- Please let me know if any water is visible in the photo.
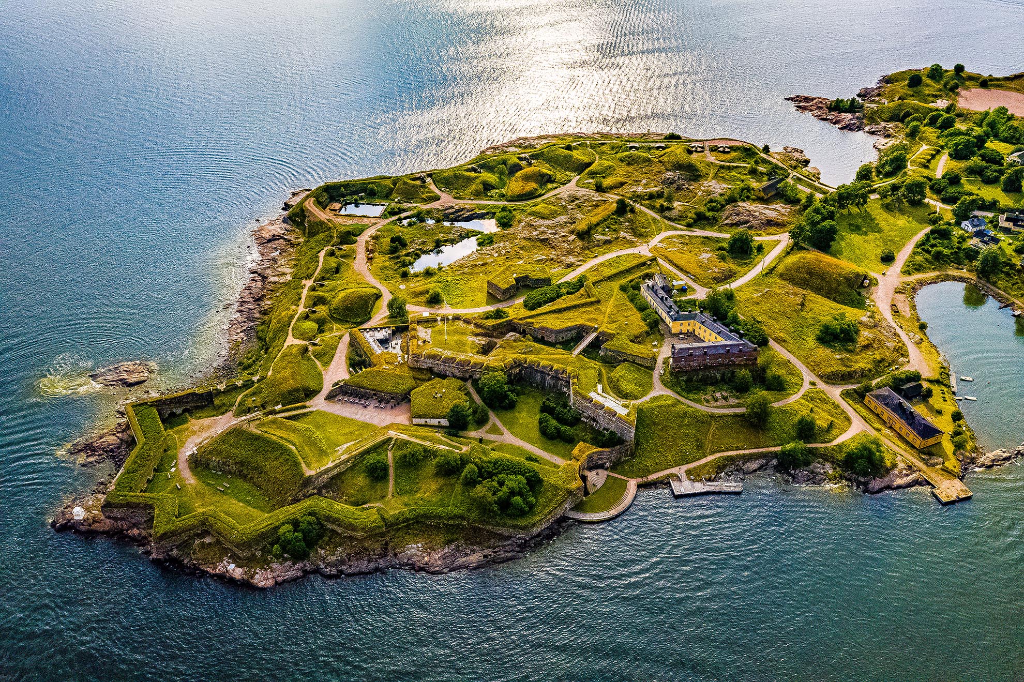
Yes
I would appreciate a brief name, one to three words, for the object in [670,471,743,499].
pier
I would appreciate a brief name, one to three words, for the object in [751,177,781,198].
house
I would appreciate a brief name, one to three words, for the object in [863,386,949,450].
house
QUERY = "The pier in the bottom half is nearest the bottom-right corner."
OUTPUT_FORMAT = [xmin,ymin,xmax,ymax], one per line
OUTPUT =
[922,473,972,506]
